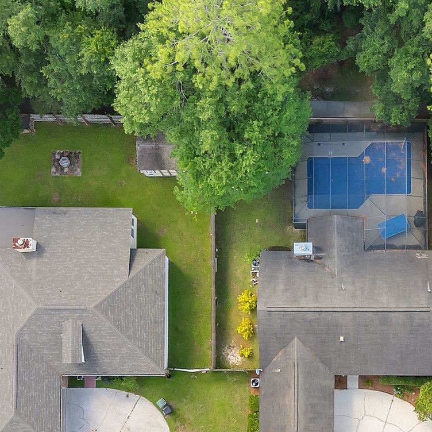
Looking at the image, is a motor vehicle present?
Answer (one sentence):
No, the photo shows no motor vehicle.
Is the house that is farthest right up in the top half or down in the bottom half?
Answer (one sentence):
The bottom half of the photo is where the house that is farthest right is.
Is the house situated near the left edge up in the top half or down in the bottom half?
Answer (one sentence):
The bottom half of the photo is where the house situated near the left edge is.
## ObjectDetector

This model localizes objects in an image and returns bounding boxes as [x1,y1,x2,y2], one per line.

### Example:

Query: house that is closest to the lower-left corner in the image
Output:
[0,206,170,432]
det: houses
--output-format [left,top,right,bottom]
[256,215,432,432]
[0,206,170,432]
